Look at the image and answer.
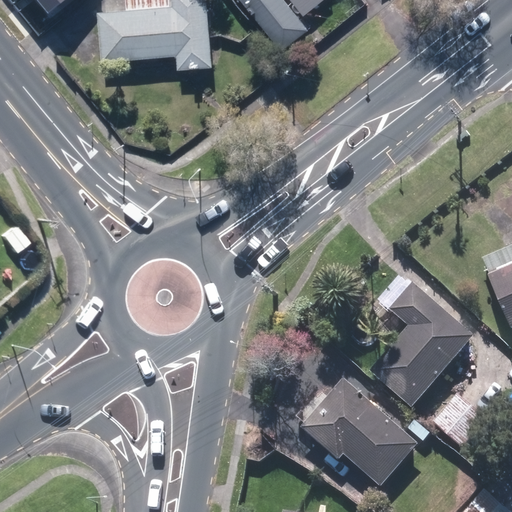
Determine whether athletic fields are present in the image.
No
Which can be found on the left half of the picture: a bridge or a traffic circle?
traffic circle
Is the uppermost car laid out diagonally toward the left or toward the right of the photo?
right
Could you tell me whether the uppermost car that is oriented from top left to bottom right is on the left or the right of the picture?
left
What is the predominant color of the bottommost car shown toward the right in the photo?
blue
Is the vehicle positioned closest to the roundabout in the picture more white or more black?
white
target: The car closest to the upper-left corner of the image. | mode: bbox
[120,202,154,229]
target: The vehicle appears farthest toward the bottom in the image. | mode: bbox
[148,478,162,509]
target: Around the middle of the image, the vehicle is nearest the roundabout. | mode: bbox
[204,282,224,315]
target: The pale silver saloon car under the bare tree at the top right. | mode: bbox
[464,11,492,36]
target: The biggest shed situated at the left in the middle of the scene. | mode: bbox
[6,227,30,253]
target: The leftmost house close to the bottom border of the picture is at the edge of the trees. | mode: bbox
[296,377,418,486]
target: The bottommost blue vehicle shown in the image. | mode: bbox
[324,454,350,478]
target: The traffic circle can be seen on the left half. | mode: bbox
[126,258,204,336]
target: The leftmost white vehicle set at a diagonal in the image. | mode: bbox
[78,296,104,327]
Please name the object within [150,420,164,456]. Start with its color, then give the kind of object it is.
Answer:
white vehicle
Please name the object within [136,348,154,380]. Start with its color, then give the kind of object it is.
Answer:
white car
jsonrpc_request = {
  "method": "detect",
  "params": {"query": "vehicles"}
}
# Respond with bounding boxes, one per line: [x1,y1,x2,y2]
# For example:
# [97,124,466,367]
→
[256,237,288,268]
[148,478,162,509]
[324,454,350,478]
[323,158,354,184]
[40,404,69,418]
[136,348,154,380]
[78,296,104,327]
[150,420,164,456]
[232,235,262,266]
[120,202,154,229]
[476,382,504,406]
[204,282,224,315]
[464,11,492,36]
[196,199,230,226]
